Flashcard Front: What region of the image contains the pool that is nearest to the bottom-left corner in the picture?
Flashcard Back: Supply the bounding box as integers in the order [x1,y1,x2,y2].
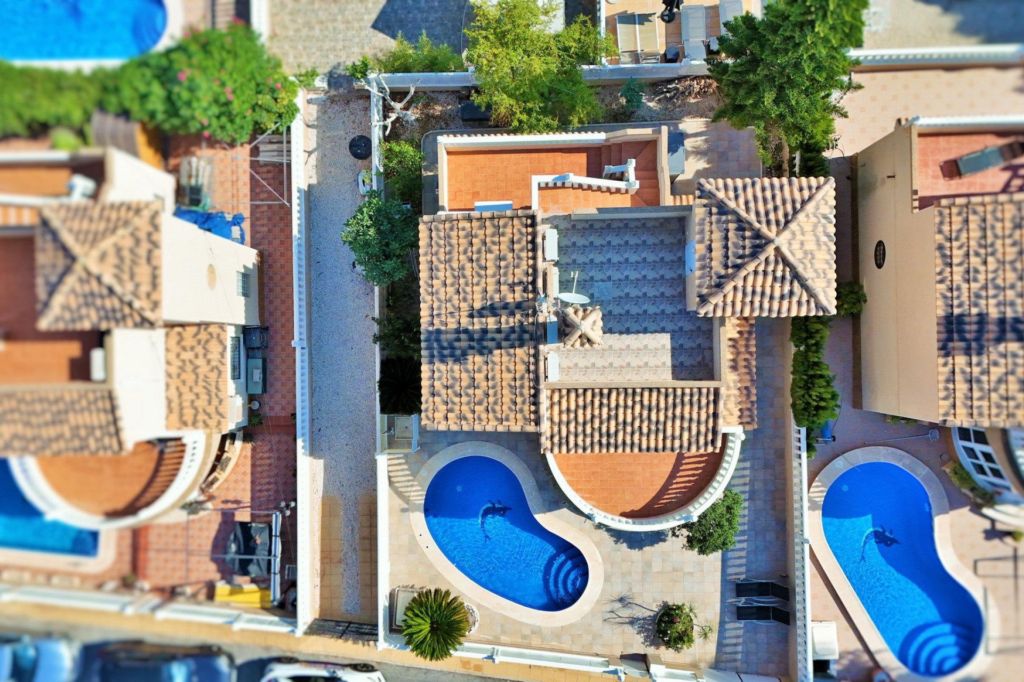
[0,455,113,572]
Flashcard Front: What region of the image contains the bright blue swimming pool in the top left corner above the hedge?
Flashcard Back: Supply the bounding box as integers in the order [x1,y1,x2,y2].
[0,0,181,75]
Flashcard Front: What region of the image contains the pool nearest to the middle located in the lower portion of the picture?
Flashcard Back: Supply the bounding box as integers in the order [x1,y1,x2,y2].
[409,441,604,627]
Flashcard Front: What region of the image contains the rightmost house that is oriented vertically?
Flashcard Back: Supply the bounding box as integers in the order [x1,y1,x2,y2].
[855,122,1024,527]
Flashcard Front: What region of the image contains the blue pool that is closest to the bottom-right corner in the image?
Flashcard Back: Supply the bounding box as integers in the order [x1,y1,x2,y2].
[809,447,1001,682]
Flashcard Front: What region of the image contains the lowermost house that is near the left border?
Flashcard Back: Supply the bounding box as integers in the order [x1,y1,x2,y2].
[0,147,259,540]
